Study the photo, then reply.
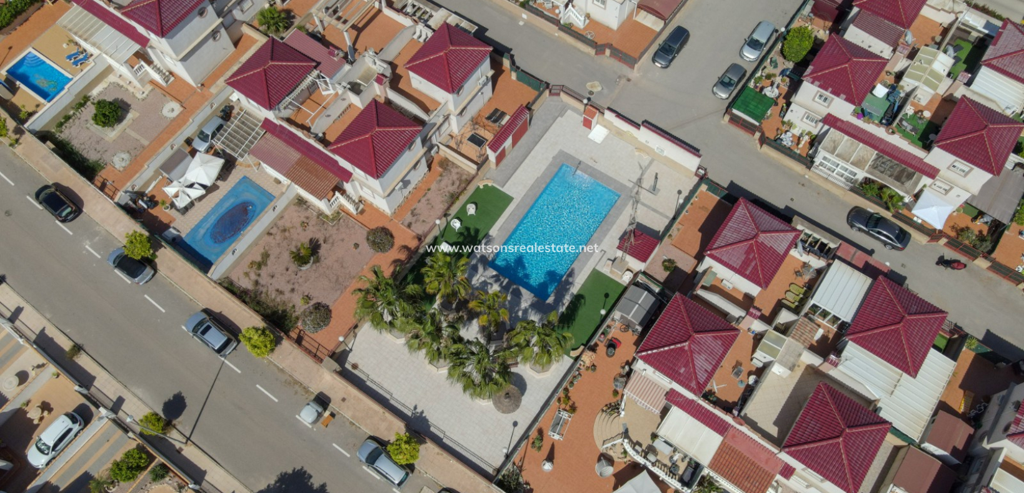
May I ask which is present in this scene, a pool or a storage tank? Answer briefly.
pool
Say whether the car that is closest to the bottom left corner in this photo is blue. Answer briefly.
No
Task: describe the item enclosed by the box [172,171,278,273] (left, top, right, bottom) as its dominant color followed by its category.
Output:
blue swimming pool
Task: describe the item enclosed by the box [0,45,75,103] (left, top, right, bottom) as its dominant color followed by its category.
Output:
blue swimming pool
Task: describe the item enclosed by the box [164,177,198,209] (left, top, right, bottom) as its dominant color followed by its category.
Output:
white umbrella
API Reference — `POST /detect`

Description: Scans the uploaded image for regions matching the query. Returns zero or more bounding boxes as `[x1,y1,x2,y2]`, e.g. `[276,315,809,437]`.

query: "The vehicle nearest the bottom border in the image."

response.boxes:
[351,437,419,493]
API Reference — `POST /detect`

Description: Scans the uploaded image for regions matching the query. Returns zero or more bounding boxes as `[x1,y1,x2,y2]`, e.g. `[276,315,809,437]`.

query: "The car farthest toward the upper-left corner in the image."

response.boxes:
[35,191,82,230]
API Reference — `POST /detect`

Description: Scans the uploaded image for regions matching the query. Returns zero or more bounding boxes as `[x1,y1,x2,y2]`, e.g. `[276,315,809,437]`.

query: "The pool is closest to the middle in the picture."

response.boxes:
[482,158,626,306]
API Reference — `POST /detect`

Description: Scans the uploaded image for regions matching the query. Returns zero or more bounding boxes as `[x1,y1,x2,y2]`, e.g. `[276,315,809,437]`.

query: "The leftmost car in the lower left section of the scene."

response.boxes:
[24,403,92,465]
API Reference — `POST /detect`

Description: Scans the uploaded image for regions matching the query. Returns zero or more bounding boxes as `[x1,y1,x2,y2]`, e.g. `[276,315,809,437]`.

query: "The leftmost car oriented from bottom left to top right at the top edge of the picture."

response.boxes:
[647,21,691,69]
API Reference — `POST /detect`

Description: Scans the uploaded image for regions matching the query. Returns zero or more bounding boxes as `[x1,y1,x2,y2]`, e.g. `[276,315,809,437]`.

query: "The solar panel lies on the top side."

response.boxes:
[960,15,994,40]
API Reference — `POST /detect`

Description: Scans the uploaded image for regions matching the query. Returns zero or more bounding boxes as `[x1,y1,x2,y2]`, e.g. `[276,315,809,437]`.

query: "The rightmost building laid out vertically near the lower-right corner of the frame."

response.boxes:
[968,365,1024,481]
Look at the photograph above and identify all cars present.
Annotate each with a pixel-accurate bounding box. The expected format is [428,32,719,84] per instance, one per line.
[737,17,783,65]
[351,437,419,493]
[35,191,82,230]
[185,114,230,155]
[182,313,242,366]
[24,403,92,465]
[105,250,158,294]
[839,210,913,257]
[706,59,751,103]
[647,21,691,69]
